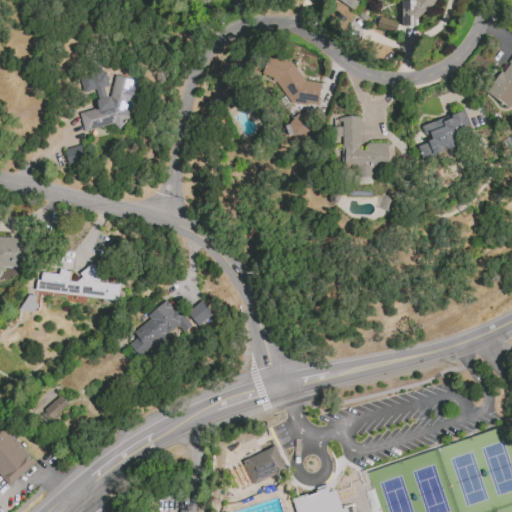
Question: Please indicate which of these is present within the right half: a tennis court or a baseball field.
tennis court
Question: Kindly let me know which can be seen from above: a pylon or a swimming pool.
swimming pool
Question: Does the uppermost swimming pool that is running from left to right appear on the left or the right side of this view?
right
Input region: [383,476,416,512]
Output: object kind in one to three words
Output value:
tennis court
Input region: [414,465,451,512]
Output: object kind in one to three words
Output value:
tennis court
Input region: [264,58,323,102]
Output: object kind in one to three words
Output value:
house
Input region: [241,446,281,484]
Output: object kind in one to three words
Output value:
building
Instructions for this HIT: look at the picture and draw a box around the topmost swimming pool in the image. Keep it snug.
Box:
[230,106,261,137]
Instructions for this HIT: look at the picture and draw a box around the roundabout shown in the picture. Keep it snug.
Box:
[291,424,332,485]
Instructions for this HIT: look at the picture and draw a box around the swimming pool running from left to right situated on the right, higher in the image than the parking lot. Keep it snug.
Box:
[336,194,392,220]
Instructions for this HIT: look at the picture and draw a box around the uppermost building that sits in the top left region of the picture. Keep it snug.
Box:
[80,70,134,130]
